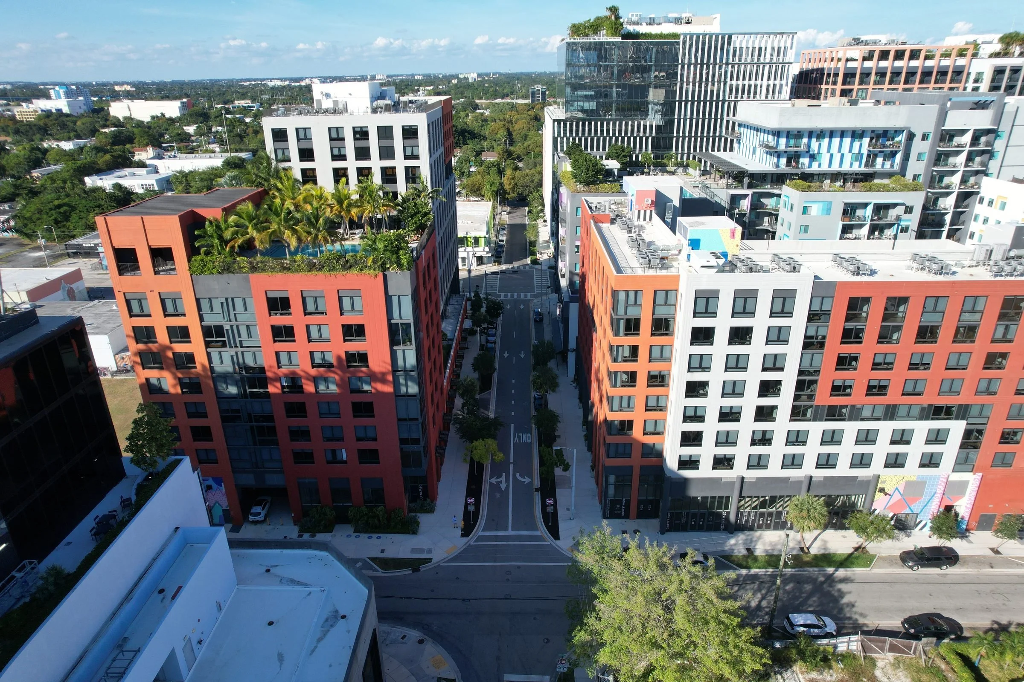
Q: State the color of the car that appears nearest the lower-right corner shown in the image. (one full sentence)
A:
The car that appears nearest the lower-right corner looks black in the image.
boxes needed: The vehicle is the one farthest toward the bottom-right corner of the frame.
[906,614,966,638]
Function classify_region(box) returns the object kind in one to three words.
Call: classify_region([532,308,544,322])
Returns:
vehicle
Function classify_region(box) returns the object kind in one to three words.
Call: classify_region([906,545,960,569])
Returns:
car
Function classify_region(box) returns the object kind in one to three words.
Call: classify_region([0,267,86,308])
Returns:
building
